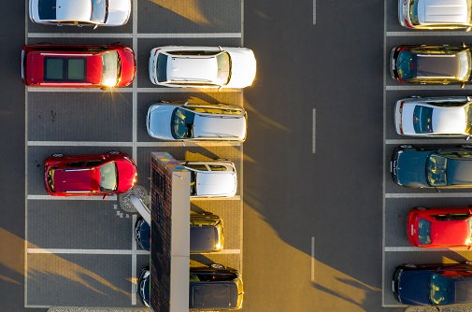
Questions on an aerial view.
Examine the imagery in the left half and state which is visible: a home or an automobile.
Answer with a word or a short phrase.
automobile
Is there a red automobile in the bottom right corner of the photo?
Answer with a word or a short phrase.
Yes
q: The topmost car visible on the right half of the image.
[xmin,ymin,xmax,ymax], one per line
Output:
[396,0,472,34]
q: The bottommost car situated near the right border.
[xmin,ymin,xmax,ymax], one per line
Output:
[390,259,472,312]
